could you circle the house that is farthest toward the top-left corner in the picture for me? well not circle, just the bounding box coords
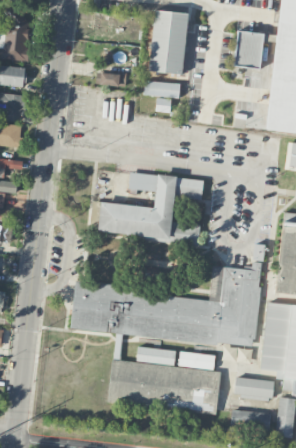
[0,27,28,62]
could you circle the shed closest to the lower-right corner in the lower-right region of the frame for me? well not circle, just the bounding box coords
[278,398,296,438]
